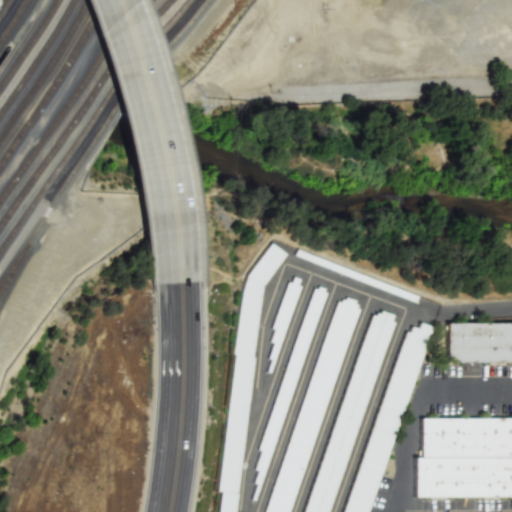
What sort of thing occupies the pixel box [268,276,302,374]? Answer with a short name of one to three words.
building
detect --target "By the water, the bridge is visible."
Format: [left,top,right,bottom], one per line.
[92,0,209,284]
